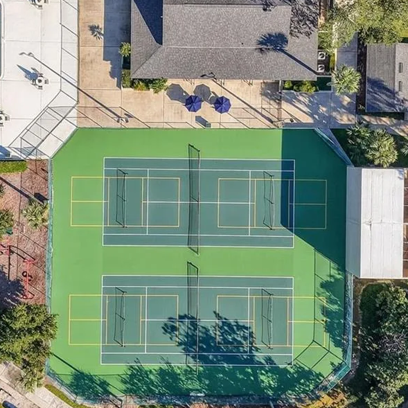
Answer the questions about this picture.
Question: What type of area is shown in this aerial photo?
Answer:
sports ground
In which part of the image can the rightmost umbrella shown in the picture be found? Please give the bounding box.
[214,95,232,114]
